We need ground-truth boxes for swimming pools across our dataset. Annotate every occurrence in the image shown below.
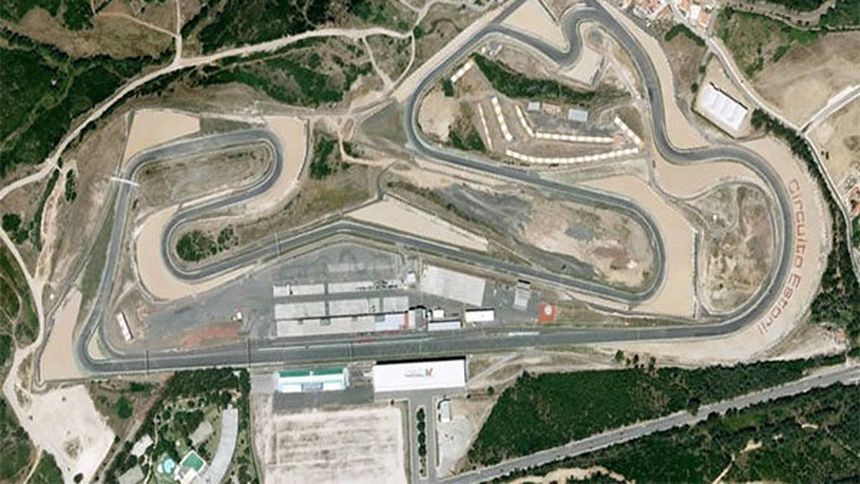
[181,452,205,472]
[165,460,174,473]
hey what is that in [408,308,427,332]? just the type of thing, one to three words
building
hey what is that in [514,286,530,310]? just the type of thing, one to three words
building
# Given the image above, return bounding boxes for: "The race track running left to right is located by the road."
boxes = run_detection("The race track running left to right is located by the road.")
[39,0,831,381]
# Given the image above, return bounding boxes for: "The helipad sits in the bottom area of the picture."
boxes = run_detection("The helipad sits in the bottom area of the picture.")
[538,302,556,321]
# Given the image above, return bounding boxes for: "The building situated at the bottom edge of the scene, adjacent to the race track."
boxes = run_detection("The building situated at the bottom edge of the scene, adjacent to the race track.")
[197,404,239,484]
